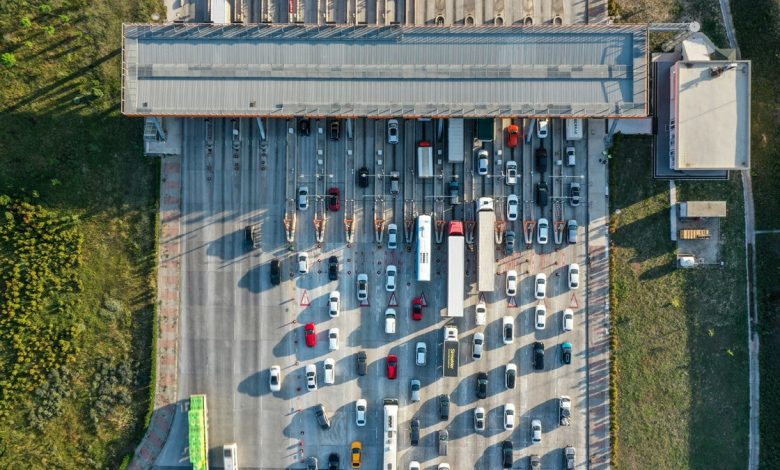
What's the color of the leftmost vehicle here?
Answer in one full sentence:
The leftmost vehicle looks green in the image.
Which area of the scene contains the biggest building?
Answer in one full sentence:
The biggest building sits in the top right section of the image.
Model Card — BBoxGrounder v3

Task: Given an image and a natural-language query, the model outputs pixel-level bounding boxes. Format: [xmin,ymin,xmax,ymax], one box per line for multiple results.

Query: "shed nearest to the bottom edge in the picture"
[676,200,727,217]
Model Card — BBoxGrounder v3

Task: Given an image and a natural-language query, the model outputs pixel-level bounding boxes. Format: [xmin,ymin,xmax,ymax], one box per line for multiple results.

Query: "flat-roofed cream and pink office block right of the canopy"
[654,39,752,180]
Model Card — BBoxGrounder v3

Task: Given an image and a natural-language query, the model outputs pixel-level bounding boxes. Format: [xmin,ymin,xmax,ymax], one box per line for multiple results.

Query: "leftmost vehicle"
[189,393,209,470]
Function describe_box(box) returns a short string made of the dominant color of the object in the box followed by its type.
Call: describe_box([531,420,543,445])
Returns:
white vehicle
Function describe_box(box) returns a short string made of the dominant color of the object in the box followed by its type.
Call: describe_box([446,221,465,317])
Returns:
white vehicle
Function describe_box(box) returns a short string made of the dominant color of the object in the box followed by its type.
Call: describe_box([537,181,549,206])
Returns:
black vehicle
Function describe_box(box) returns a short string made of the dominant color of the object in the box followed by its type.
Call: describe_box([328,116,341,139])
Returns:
black vehicle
